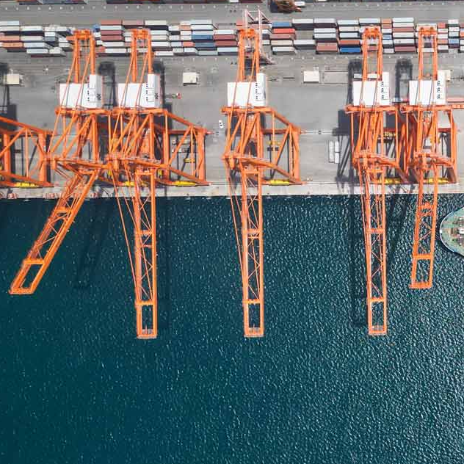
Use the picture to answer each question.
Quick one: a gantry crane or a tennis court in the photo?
gantry crane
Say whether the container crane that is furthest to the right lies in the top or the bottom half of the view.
top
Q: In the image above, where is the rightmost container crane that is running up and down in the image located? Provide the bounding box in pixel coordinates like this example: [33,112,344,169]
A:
[397,25,464,289]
